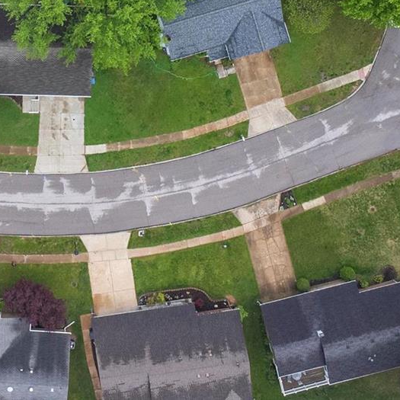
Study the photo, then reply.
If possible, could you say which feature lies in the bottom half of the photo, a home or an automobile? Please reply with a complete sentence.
Visible in the bottom half of the photo is a home.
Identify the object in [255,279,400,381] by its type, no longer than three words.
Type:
house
